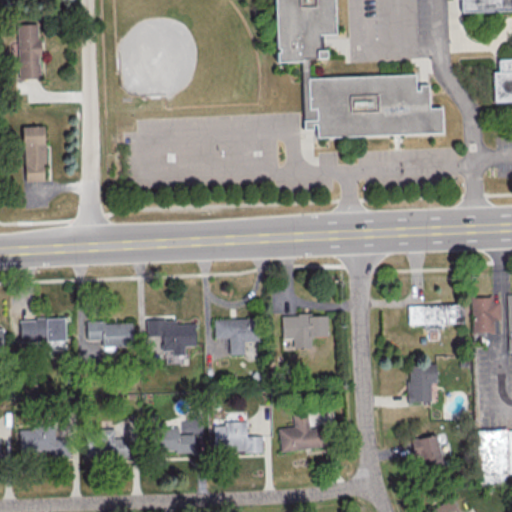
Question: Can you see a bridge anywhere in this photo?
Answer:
No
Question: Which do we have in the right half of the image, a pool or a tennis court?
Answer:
pool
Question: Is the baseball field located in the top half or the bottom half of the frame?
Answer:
top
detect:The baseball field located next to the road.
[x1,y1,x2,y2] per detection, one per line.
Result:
[114,0,262,110]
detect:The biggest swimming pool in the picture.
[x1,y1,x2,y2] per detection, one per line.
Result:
[443,390,469,422]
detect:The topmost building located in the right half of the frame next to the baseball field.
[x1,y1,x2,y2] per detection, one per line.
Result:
[278,0,337,62]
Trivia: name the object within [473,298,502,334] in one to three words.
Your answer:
house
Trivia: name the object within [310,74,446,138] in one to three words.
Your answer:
building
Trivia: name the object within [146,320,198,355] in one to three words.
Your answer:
house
